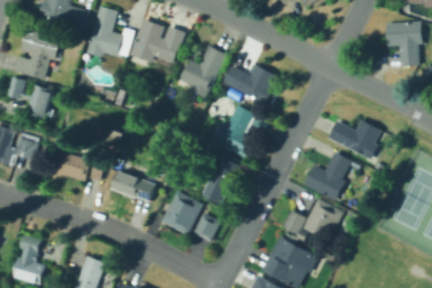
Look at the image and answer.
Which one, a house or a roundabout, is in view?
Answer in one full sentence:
The image shows a house.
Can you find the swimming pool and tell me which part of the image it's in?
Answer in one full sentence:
You can find the swimming pool in the top left area of the picture.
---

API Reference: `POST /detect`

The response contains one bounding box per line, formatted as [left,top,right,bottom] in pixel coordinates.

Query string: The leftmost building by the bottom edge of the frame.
[12,236,46,286]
